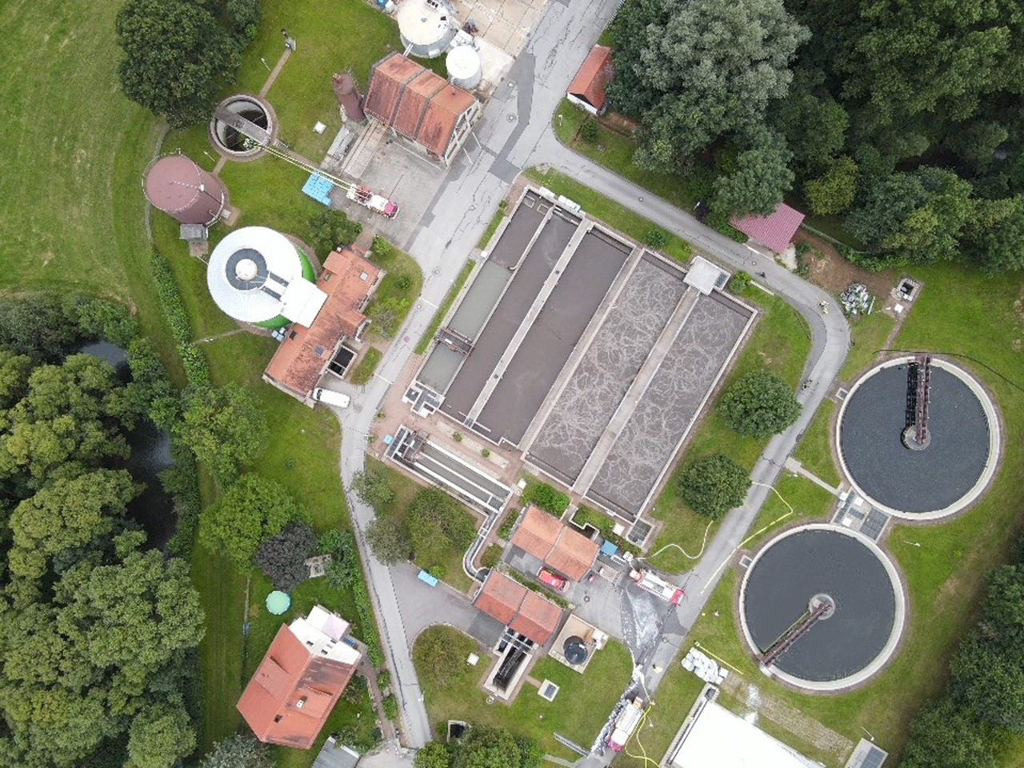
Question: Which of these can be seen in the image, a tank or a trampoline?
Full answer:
Of the two, only a tank appears.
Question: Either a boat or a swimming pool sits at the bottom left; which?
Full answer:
It is a swimming pool that can be seen at the bottom left.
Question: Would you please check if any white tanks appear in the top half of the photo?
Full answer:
Yes, looking in the top half of the photo, one can make out a white tank.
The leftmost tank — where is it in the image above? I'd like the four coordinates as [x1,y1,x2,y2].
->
[140,153,228,223]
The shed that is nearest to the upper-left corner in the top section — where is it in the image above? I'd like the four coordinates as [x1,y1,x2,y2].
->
[179,223,212,242]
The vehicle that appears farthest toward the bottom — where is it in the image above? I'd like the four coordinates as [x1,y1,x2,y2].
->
[602,691,647,757]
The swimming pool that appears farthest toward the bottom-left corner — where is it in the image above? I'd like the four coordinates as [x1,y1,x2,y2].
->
[265,590,291,616]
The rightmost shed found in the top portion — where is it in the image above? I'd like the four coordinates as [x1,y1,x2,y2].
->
[729,201,805,254]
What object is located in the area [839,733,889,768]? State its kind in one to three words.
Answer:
shed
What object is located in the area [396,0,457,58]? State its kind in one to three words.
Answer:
storage tank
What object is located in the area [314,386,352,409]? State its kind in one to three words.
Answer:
vehicle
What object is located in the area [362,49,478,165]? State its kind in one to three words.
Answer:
building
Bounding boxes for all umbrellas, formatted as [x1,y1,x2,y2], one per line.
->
[324,613,348,640]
